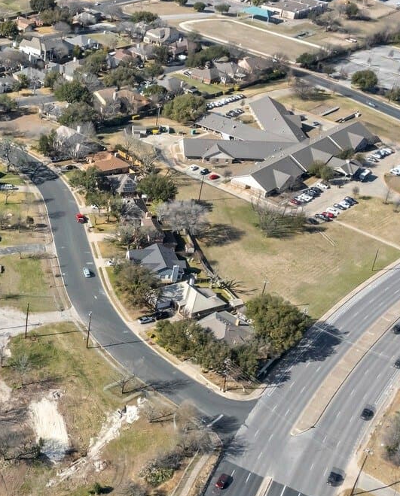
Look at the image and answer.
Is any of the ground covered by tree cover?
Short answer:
Yes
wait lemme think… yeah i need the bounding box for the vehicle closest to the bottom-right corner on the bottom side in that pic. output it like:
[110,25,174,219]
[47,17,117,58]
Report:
[326,468,342,488]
